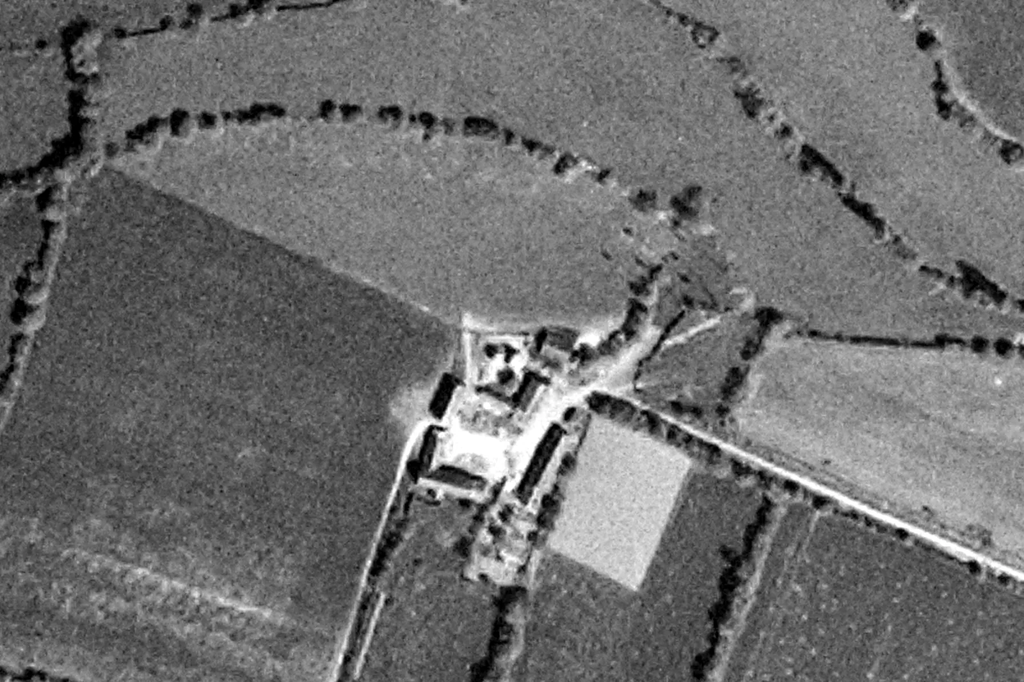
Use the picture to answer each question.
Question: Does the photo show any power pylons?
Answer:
No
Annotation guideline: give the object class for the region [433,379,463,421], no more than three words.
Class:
barn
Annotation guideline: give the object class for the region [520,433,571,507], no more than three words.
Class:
shed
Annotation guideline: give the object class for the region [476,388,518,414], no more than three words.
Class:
shed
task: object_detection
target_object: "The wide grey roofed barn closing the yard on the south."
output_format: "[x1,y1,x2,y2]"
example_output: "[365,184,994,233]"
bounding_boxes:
[428,469,486,501]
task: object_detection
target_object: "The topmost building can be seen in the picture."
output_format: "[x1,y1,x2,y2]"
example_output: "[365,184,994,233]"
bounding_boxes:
[540,341,571,363]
